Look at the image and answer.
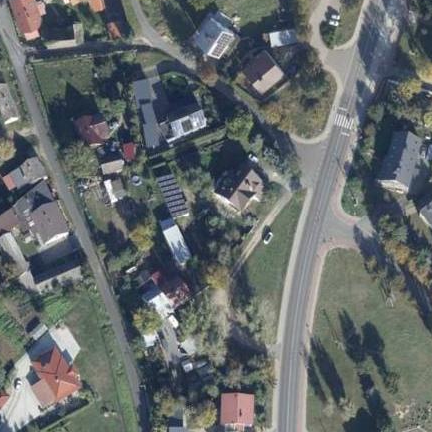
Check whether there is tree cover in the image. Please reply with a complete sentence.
Yes, some tree cover is visible.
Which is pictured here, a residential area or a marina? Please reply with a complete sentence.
This image shows a residential area.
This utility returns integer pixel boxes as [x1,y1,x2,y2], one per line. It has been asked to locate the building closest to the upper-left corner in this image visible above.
[11,0,42,41]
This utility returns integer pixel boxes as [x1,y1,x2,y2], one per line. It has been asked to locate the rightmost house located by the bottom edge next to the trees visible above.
[221,392,254,426]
